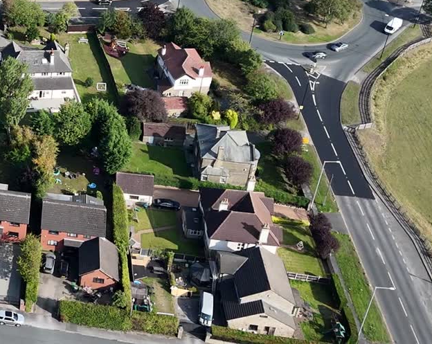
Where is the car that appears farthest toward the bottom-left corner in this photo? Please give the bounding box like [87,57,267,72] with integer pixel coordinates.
[0,308,25,326]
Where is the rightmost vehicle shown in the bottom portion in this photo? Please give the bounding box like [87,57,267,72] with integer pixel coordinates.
[199,292,214,323]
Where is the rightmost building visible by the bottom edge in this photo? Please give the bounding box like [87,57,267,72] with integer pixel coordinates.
[217,245,300,333]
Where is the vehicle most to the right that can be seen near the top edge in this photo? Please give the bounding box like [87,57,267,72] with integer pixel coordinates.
[388,12,402,30]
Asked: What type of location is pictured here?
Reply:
residential area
